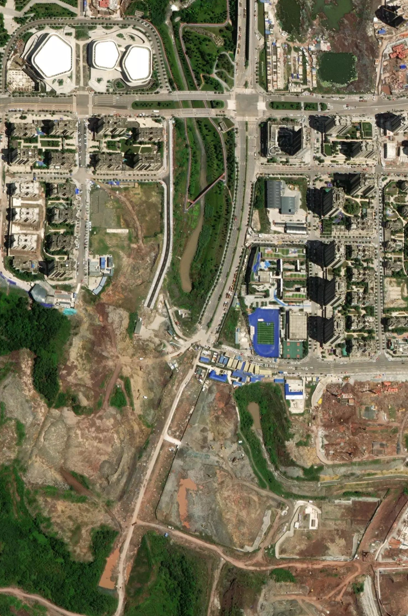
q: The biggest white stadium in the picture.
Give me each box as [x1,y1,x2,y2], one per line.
[31,32,74,81]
